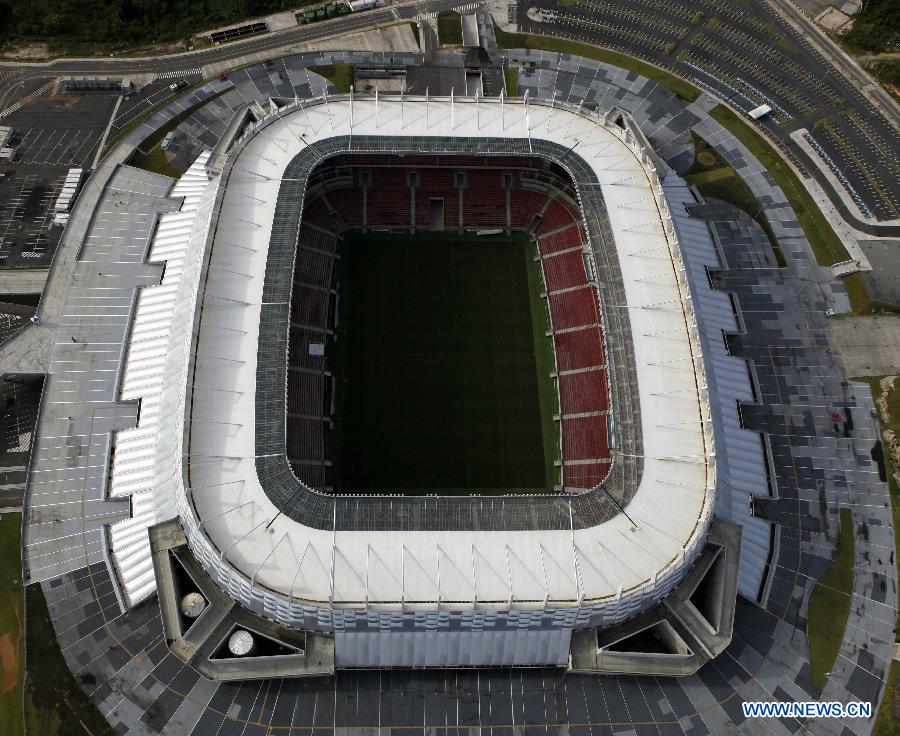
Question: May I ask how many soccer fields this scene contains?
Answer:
1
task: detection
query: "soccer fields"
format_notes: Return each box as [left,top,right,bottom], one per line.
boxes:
[323,233,564,497]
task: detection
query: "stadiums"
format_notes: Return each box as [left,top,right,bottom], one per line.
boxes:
[104,78,773,684]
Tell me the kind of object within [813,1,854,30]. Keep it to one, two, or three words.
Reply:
building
